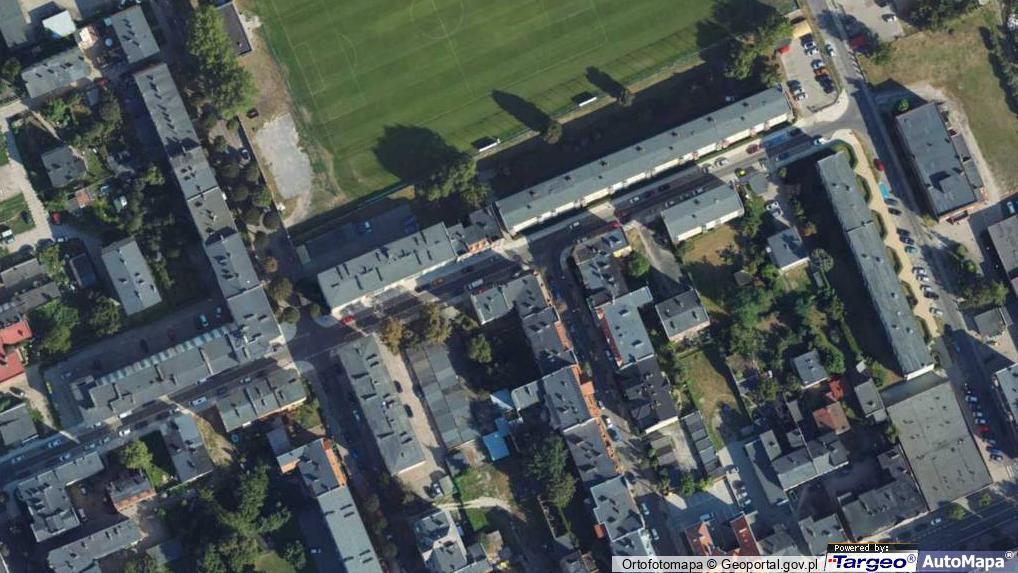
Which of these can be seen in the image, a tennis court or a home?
home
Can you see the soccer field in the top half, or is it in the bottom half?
top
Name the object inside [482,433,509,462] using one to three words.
shed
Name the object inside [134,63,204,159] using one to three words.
house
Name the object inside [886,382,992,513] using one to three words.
building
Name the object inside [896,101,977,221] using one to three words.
building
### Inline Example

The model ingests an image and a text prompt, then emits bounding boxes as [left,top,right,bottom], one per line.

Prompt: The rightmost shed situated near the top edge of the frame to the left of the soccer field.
[217,1,252,55]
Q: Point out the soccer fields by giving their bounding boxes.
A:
[261,0,765,196]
